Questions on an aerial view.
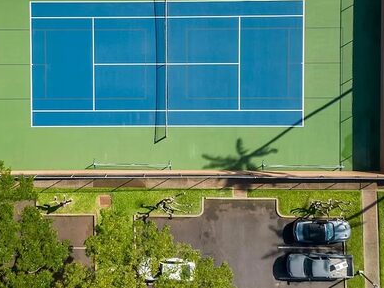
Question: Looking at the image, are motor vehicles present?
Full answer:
Yes, a motor vehicle can be made out from above.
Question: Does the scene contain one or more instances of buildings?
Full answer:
No, no building is visible in the view.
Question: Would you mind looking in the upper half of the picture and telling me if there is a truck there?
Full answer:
No, in the upper half of the picture there is no truck.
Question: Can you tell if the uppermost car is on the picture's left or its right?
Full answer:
The uppermost car is on the right side of the image.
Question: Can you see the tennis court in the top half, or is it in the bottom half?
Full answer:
It is in the top half that the tennis court appears.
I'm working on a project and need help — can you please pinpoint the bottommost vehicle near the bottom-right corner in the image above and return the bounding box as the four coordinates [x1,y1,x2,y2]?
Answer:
[286,251,355,281]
